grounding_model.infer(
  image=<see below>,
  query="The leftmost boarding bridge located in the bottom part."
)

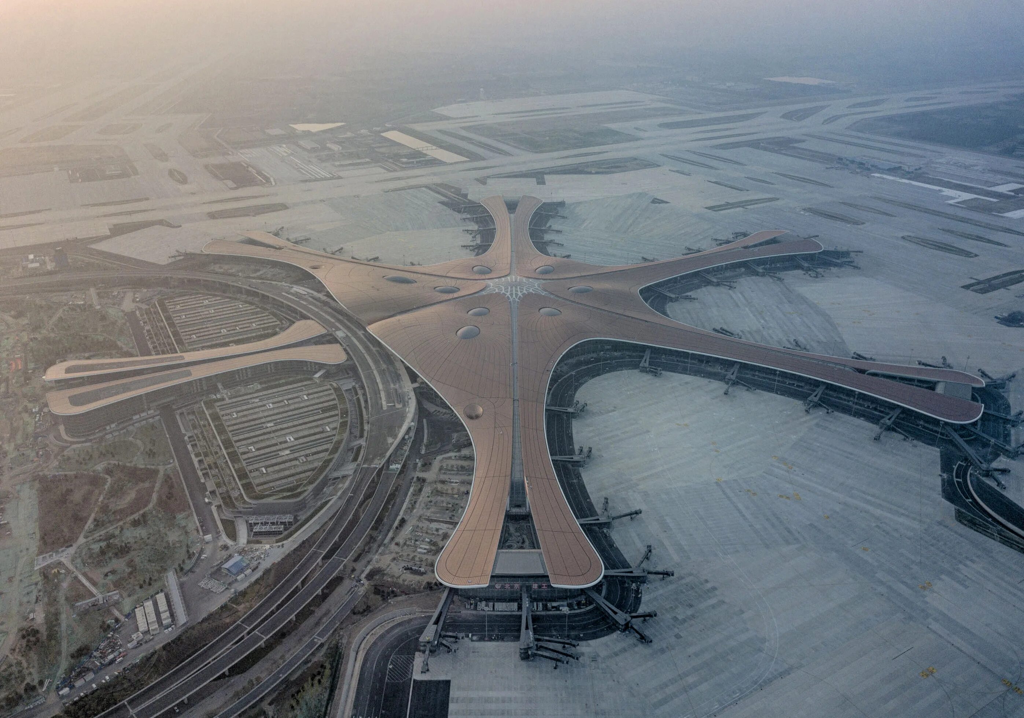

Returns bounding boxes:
[421,588,469,678]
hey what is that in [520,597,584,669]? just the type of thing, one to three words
jet bridge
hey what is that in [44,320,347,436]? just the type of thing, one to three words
building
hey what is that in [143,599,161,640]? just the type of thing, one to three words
building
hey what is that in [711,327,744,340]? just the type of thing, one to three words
jet bridge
